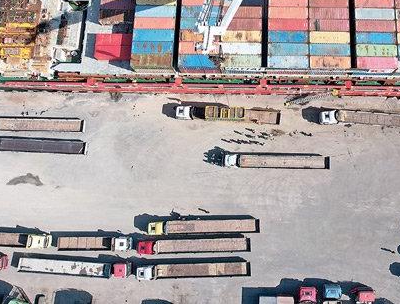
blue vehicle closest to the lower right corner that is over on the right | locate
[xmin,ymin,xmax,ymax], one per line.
[322,280,343,304]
